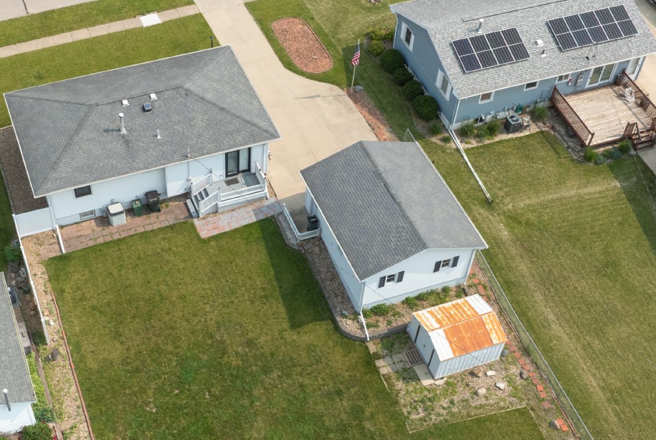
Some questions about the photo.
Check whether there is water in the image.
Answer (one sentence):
No, the picture contains no water.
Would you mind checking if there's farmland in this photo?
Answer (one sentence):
No, there's no farmland in this view.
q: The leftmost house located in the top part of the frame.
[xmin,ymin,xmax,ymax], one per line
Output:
[3,44,281,220]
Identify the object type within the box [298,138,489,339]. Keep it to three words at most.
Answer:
building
